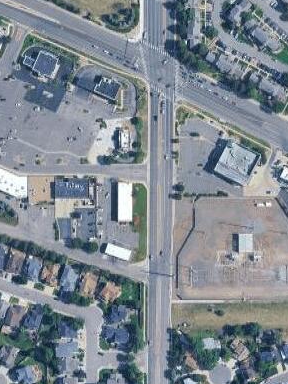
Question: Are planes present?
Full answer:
No, the picture doesn't show any plane.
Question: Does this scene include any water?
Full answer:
No, no water is visible.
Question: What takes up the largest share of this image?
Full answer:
The scene is dominated by paved ground.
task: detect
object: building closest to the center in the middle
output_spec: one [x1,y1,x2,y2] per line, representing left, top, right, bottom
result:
[118,183,133,222]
